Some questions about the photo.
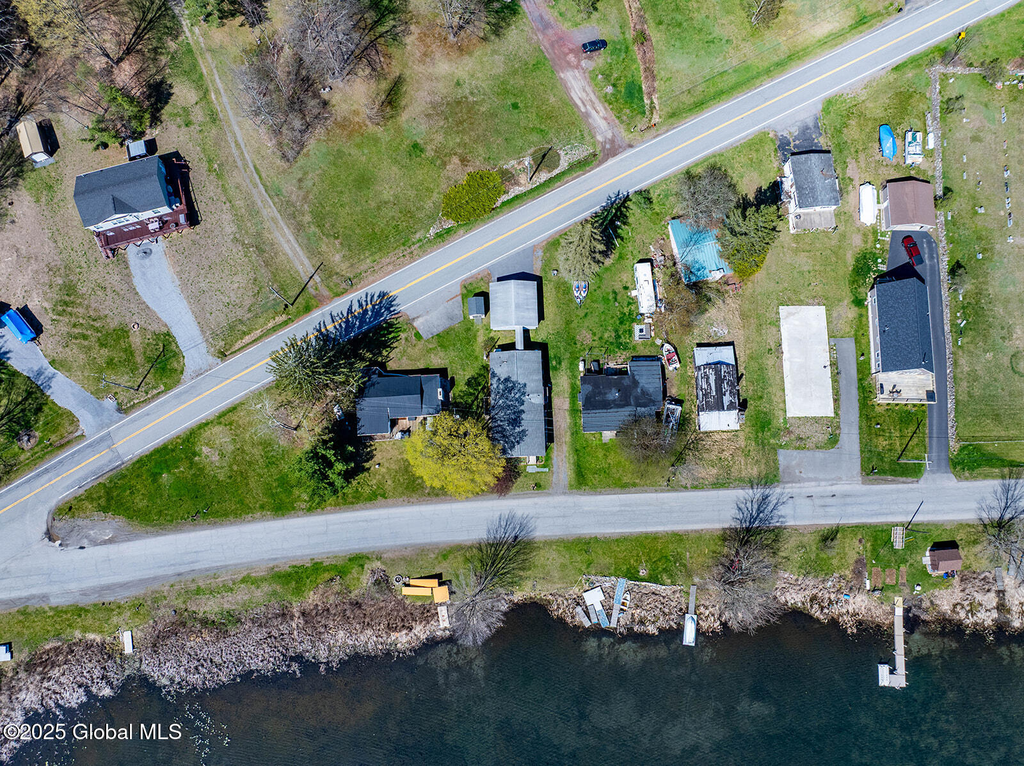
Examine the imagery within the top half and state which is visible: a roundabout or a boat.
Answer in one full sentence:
The one visible within the top half is a boat.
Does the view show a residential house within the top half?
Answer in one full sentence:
Yes, a residential house is visible within the top half.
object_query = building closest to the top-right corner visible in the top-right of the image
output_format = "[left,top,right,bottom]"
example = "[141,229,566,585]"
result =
[878,180,935,231]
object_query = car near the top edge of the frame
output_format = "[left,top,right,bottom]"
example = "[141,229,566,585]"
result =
[583,37,607,51]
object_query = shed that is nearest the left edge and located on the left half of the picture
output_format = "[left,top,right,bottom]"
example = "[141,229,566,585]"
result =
[17,121,50,166]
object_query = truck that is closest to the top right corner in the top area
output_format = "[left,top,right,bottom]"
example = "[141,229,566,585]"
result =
[904,234,926,265]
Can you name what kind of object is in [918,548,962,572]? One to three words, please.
shed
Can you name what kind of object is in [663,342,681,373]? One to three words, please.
boat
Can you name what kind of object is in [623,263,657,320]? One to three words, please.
vehicle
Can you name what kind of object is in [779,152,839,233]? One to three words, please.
house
